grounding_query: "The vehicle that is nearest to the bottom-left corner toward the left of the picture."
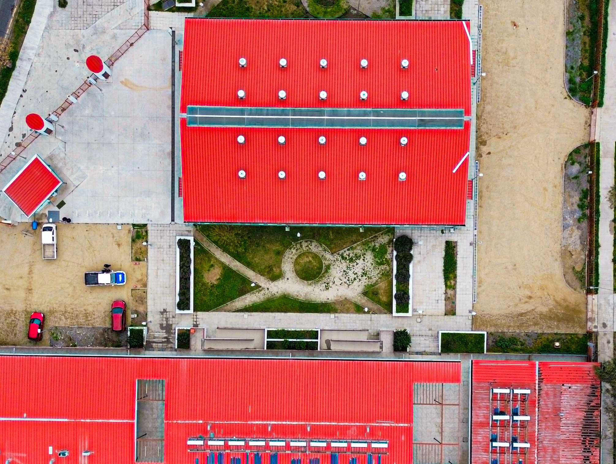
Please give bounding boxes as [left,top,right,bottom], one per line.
[28,312,46,342]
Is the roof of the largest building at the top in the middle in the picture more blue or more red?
red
